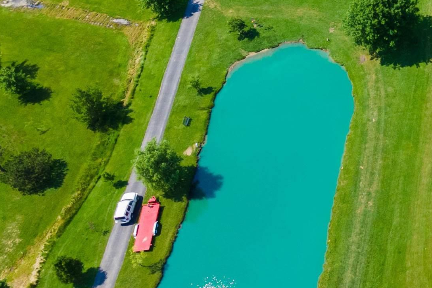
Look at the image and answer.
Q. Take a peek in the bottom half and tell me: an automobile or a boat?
automobile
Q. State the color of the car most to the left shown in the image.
white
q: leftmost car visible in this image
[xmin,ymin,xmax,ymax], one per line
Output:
[111,188,140,232]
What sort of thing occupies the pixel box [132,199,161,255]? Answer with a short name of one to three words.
trailer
